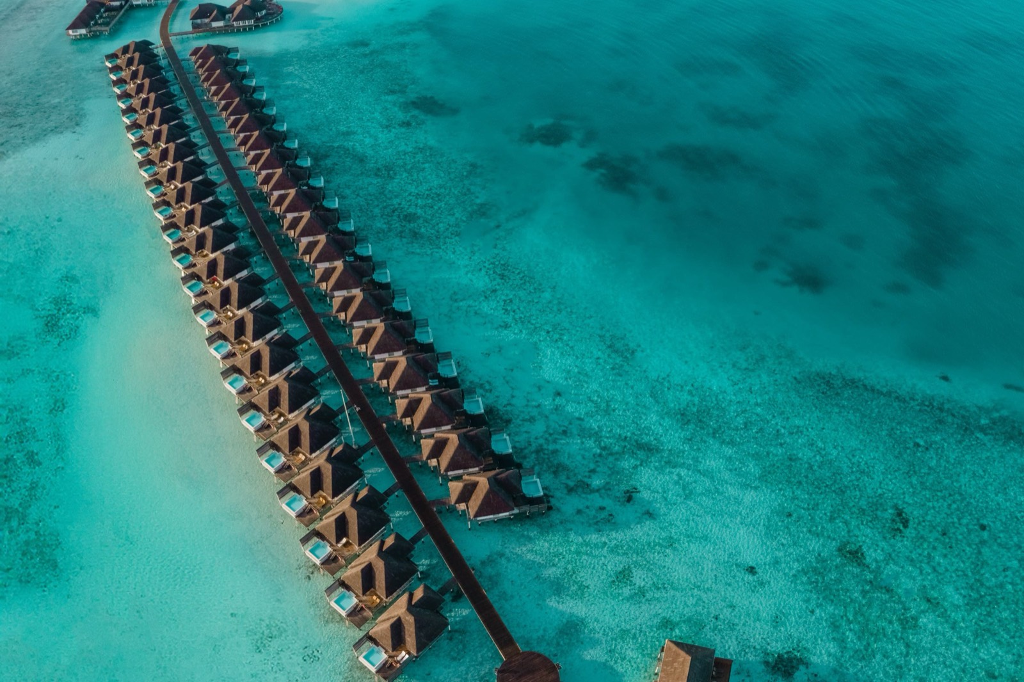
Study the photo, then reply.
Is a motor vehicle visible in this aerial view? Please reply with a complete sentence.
No, no motor vehicle is visible in the scene.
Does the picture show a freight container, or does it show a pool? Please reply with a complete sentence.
Visible in the photo is a pool.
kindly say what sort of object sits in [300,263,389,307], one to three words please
house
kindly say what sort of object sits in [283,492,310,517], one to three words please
swimming pool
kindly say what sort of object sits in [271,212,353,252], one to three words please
house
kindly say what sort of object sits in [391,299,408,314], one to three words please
swimming pool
